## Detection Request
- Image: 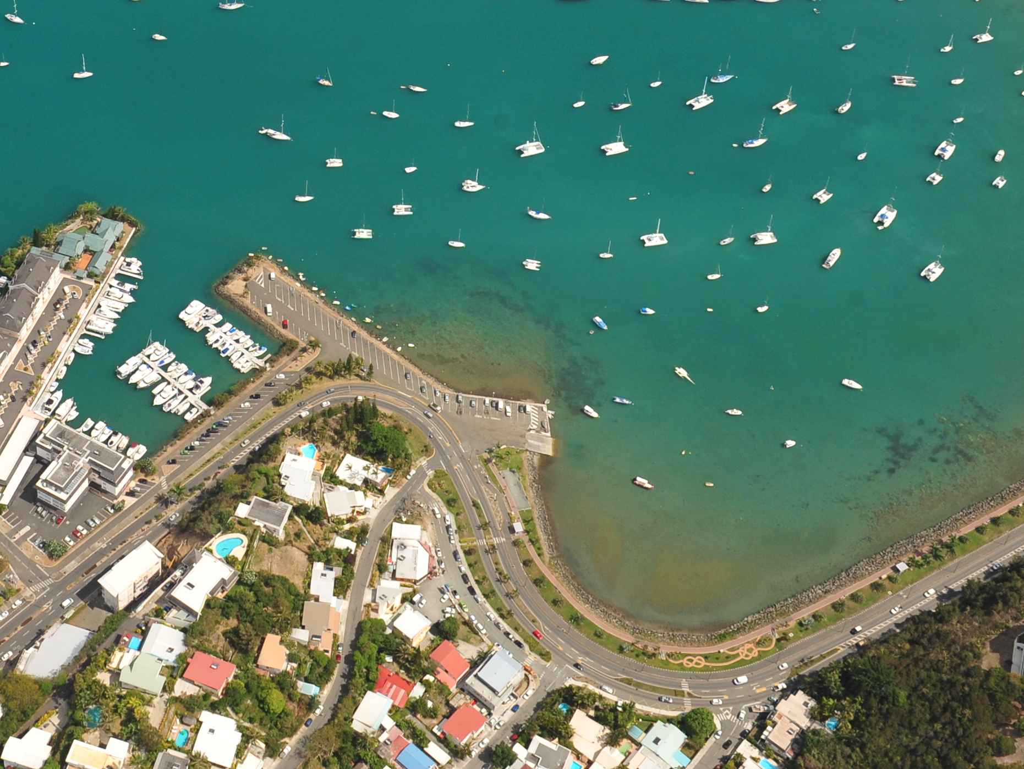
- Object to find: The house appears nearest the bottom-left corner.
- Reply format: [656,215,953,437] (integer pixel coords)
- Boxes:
[1,728,52,769]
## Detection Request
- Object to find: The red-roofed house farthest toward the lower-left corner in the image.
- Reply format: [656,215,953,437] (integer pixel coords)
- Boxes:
[183,651,234,697]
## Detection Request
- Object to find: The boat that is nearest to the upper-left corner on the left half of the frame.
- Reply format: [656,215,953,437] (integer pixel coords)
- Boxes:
[3,1,25,23]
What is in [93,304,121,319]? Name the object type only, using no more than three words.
boat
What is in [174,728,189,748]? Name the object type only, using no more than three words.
swimming pool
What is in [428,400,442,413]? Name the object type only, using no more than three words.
vehicle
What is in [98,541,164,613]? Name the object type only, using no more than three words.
building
